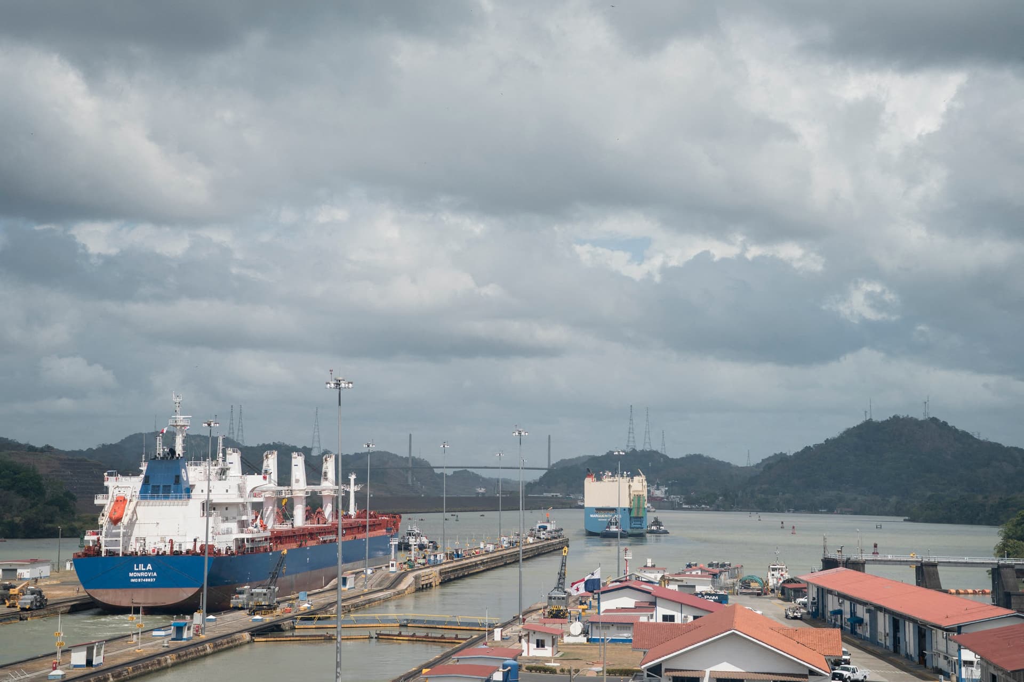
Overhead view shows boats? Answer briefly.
Yes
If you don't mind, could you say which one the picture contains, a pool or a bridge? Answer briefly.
bridge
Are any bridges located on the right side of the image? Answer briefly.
Yes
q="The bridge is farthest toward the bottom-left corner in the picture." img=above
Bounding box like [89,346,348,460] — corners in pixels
[336,438,555,495]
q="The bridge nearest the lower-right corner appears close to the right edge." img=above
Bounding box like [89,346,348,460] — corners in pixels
[820,529,1024,613]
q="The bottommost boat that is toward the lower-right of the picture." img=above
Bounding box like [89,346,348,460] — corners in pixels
[770,549,791,589]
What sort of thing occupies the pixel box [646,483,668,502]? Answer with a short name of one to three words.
ship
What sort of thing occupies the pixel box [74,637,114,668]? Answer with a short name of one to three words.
shed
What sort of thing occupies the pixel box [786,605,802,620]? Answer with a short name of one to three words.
vehicle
